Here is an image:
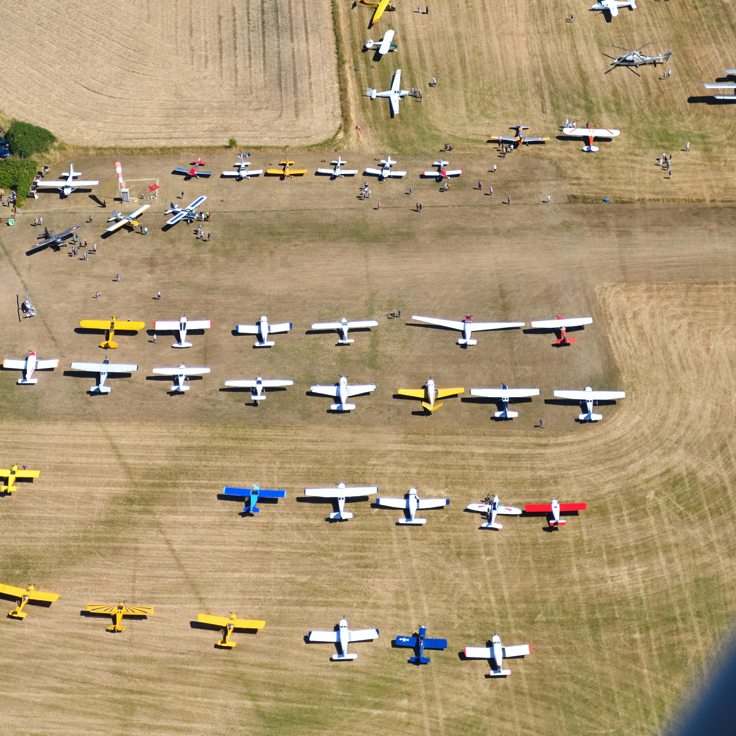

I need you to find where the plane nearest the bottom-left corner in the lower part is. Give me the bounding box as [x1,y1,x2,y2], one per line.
[0,584,59,621]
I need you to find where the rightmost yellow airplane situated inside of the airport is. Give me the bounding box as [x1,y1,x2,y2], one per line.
[398,379,464,410]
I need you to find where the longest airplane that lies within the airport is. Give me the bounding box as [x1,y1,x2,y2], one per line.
[412,315,525,345]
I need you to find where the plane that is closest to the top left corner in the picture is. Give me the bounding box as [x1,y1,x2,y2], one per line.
[38,164,99,199]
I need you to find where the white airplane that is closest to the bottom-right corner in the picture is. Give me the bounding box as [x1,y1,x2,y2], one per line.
[463,634,531,676]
